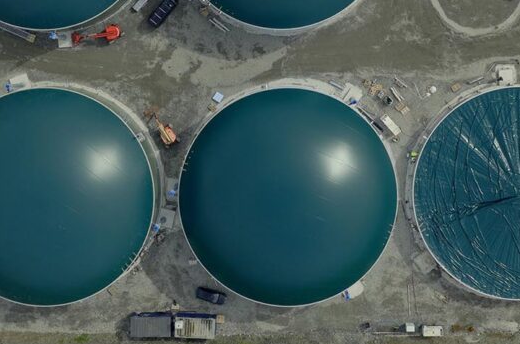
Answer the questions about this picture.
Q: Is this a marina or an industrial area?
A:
industrial area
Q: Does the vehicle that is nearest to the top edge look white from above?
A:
No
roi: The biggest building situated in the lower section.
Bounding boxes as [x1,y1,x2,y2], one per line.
[419,319,442,337]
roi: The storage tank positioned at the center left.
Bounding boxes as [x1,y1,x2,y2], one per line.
[0,79,169,307]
